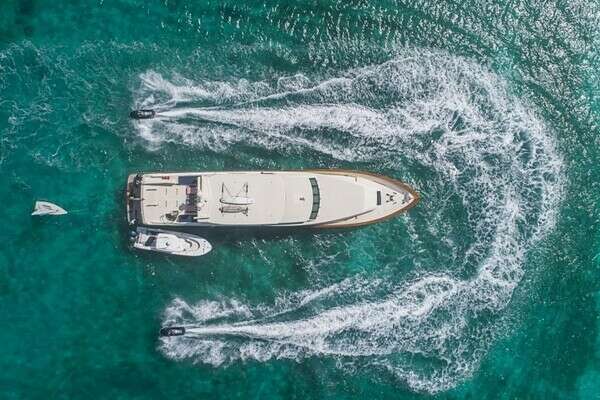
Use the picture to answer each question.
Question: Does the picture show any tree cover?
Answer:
No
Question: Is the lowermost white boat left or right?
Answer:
left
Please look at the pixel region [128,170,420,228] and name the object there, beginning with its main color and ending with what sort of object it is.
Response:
white boat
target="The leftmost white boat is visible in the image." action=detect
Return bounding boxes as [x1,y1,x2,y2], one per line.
[127,230,211,256]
